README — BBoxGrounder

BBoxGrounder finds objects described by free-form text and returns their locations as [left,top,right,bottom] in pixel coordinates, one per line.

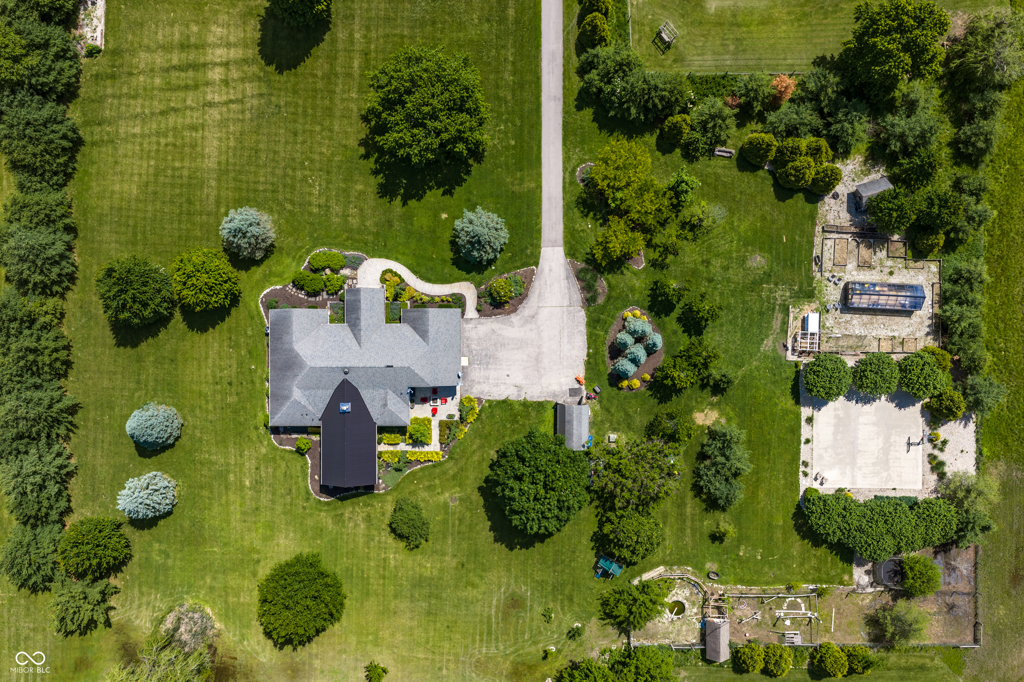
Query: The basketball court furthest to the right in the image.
[812,379,922,489]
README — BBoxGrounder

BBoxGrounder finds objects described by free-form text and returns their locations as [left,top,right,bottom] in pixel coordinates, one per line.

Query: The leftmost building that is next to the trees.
[269,288,461,488]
